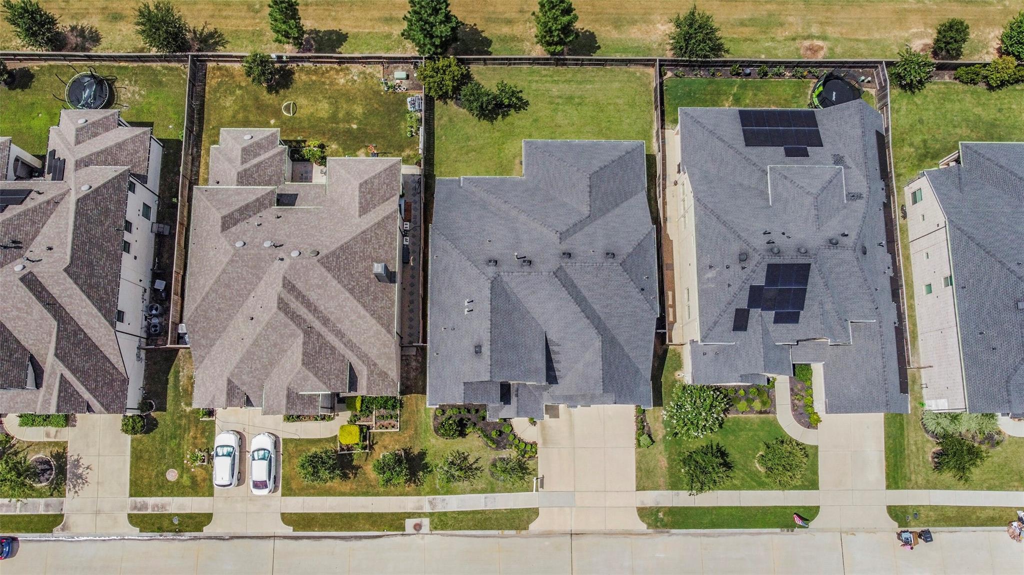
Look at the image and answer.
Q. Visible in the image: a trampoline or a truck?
trampoline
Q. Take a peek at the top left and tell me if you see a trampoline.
Yes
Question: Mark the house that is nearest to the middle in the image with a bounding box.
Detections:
[426,139,658,421]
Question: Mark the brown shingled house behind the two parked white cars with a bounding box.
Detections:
[182,127,405,415]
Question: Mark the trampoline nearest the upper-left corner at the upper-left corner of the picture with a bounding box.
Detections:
[49,60,125,109]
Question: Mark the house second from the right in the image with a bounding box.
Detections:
[673,99,911,414]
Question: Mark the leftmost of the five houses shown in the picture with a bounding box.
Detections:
[0,108,162,415]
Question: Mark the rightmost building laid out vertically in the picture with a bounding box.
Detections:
[908,141,1024,420]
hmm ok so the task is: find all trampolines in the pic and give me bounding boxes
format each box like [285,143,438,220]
[49,60,125,109]
[810,64,869,108]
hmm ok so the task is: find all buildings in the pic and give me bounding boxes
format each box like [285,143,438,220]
[908,141,1024,420]
[426,139,658,421]
[673,99,911,414]
[0,108,162,415]
[182,127,405,415]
